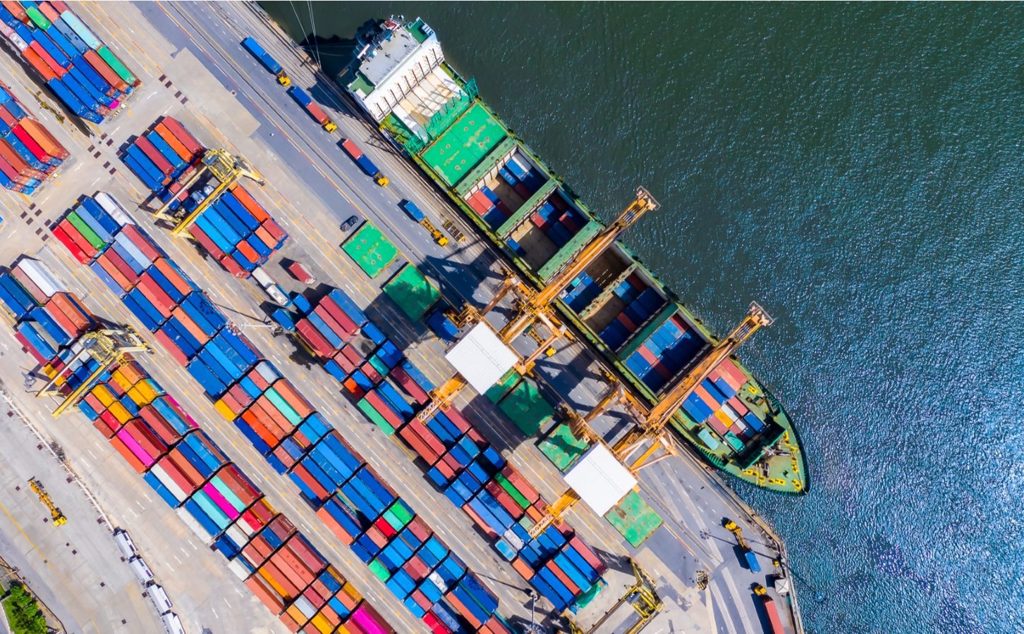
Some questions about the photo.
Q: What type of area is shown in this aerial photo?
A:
port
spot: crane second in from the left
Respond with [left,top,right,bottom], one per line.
[151,148,268,249]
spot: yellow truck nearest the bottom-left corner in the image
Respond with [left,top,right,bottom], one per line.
[26,477,70,529]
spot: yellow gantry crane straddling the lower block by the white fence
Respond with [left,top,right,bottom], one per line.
[31,323,157,419]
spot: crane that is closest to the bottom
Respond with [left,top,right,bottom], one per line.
[563,554,664,634]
